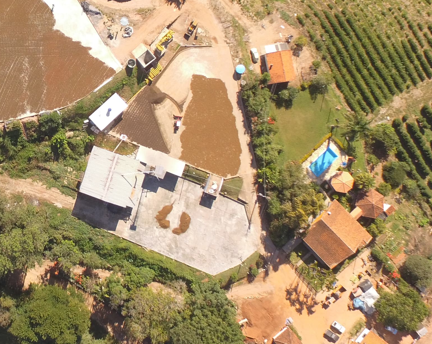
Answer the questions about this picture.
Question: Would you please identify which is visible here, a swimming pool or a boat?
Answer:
swimming pool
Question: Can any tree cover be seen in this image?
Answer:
Yes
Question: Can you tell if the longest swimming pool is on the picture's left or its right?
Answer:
right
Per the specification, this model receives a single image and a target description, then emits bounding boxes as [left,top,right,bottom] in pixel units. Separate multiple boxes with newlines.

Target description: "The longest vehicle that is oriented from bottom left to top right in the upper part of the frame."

[184,21,199,38]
